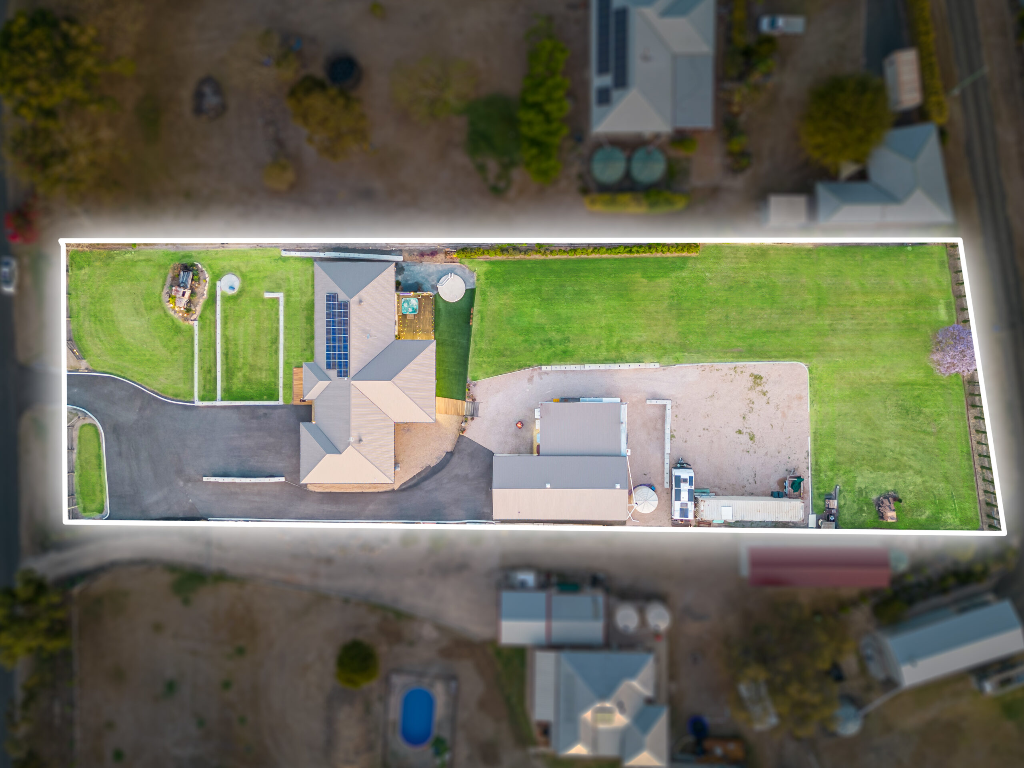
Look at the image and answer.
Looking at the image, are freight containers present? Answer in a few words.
Yes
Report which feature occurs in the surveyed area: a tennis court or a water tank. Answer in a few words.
water tank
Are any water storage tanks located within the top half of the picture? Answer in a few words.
Yes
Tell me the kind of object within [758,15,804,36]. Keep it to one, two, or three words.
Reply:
truck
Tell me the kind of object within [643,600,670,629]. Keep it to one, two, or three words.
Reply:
water tank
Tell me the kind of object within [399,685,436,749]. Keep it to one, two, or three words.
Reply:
swimming pool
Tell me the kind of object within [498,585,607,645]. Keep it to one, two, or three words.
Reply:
shed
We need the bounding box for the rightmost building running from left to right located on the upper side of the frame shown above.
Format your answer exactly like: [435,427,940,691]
[810,181,951,228]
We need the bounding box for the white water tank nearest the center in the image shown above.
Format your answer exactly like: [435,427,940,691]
[438,274,466,303]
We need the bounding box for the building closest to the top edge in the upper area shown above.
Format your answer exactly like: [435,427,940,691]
[591,0,715,136]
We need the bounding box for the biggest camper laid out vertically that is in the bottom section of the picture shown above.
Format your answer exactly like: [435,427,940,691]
[668,455,694,519]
